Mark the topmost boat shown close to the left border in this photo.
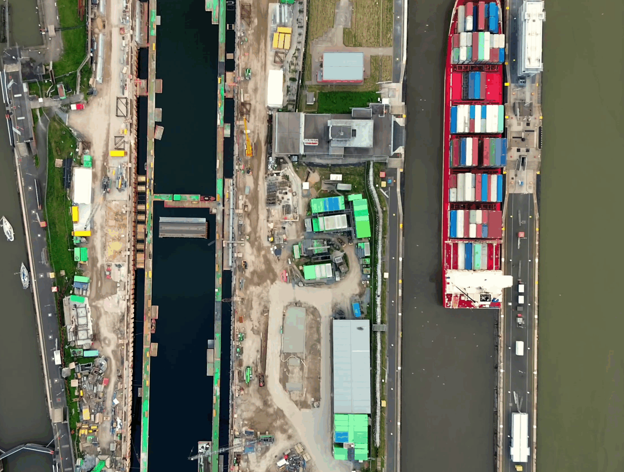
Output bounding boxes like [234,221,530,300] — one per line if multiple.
[0,216,13,242]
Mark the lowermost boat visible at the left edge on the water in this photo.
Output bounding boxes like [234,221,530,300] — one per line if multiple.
[12,264,29,290]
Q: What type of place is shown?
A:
port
